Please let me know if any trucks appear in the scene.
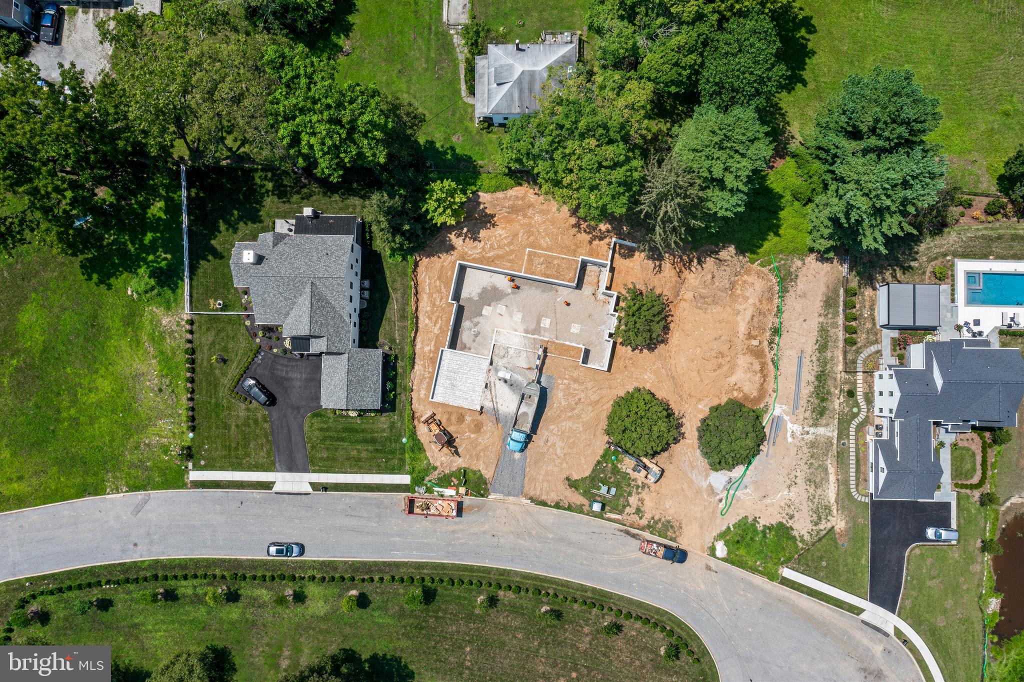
Yes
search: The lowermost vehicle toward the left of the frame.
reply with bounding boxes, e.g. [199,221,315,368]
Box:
[268,541,305,559]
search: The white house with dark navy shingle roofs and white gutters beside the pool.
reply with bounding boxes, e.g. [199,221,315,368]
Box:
[868,338,1024,500]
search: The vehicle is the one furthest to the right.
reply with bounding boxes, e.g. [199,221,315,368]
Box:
[922,525,963,544]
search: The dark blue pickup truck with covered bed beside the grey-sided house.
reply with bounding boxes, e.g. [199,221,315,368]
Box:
[41,3,64,47]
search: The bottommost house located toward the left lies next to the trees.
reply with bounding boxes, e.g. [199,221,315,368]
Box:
[229,208,384,410]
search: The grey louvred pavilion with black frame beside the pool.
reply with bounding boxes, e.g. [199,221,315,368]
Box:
[879,283,941,327]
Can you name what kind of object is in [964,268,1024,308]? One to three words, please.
swimming pool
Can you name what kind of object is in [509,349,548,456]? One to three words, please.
truck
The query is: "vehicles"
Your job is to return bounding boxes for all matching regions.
[610,441,666,484]
[419,407,454,456]
[922,525,963,544]
[41,3,64,47]
[509,349,548,456]
[642,539,687,564]
[241,376,276,408]
[268,541,305,559]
